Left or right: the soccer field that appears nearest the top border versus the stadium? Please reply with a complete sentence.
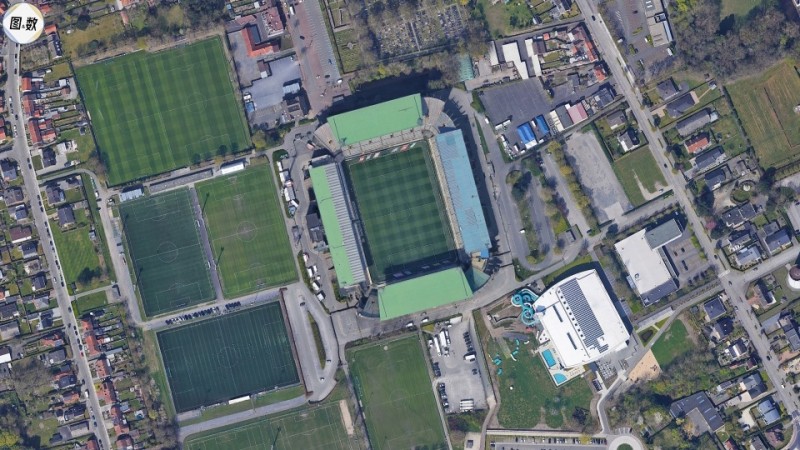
The soccer field that appears nearest the top border appears to the left of the stadium in this view.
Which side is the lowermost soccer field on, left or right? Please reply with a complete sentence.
The lowermost soccer field appears in the left half of the scene.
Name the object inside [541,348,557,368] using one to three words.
swimming pool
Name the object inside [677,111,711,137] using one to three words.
house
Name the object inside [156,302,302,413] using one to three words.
soccer field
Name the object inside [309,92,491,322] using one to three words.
stadium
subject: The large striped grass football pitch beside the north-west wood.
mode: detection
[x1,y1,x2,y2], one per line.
[76,35,252,187]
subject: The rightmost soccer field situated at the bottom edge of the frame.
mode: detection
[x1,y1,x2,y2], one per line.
[346,333,448,450]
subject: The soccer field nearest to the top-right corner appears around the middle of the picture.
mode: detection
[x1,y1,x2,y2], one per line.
[346,142,458,284]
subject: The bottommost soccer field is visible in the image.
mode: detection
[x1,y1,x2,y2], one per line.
[184,401,359,450]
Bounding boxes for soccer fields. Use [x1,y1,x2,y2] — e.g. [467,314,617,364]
[346,142,458,284]
[156,302,302,413]
[76,35,252,187]
[118,186,217,319]
[184,401,359,450]
[346,333,448,450]
[196,162,300,301]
